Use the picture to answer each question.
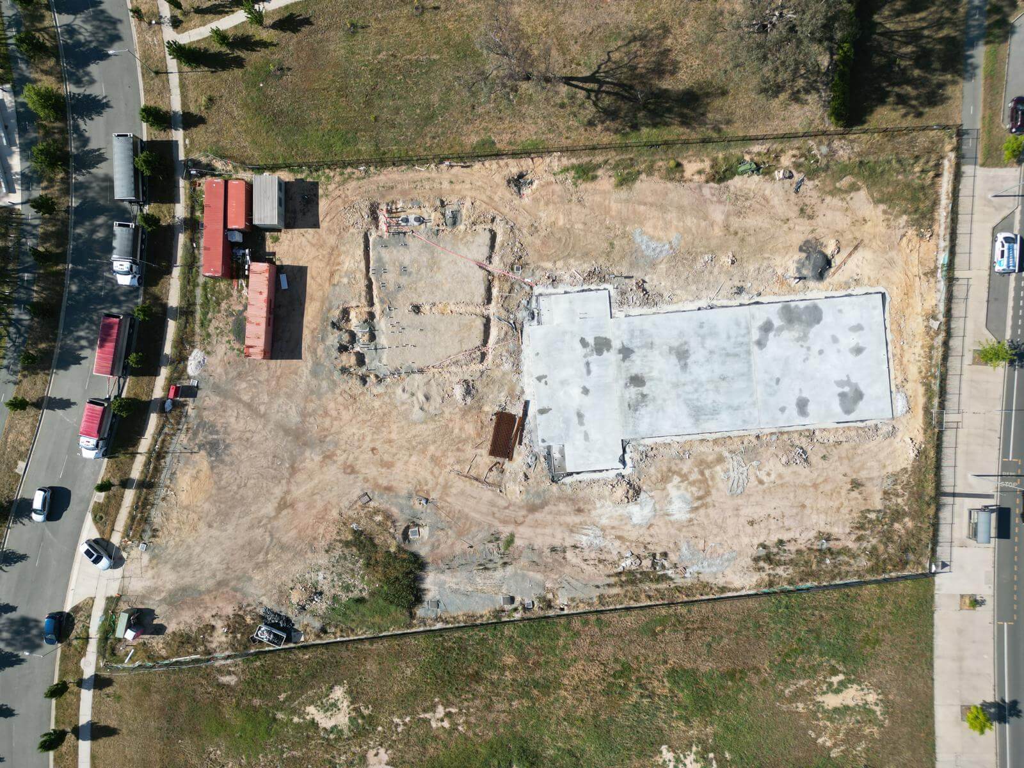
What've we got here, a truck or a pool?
truck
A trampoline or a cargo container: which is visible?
cargo container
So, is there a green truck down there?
No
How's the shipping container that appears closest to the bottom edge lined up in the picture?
from top to bottom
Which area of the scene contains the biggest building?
top left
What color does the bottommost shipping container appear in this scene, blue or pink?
pink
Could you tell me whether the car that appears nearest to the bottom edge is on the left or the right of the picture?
left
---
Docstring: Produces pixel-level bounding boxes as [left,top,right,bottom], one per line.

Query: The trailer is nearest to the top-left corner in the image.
[113,133,146,222]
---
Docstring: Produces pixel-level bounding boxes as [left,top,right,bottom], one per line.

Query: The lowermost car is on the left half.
[44,611,65,644]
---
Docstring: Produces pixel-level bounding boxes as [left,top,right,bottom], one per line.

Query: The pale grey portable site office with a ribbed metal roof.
[253,172,284,228]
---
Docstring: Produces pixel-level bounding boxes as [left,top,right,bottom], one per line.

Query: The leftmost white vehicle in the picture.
[29,489,51,523]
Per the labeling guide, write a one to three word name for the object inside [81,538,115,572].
car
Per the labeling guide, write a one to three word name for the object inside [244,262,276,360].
shipping container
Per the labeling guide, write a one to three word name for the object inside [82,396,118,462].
truck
